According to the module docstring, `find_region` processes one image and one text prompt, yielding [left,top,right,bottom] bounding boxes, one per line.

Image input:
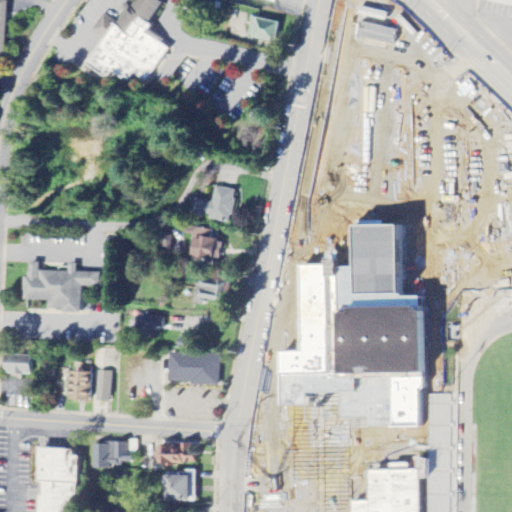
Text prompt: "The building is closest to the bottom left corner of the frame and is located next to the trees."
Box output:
[35,447,78,512]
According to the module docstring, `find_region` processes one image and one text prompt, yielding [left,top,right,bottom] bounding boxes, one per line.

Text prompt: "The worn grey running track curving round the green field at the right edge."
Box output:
[458,310,512,512]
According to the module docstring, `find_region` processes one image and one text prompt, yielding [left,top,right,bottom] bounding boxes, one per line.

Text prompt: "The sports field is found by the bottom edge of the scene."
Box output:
[474,330,512,512]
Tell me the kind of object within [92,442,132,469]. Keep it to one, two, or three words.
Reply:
house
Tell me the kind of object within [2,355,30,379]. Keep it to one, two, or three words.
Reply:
house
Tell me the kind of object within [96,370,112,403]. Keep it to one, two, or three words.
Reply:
building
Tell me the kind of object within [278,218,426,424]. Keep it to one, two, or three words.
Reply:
building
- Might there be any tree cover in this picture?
Yes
